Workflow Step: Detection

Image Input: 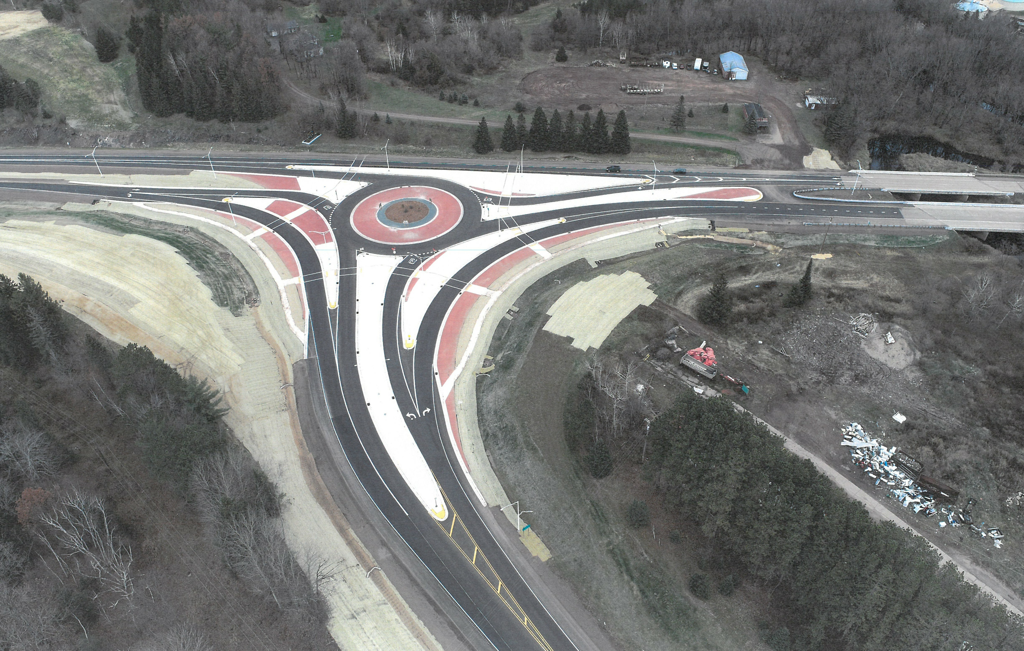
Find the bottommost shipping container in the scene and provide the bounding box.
[915,474,959,507]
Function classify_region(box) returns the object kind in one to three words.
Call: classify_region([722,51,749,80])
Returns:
shed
